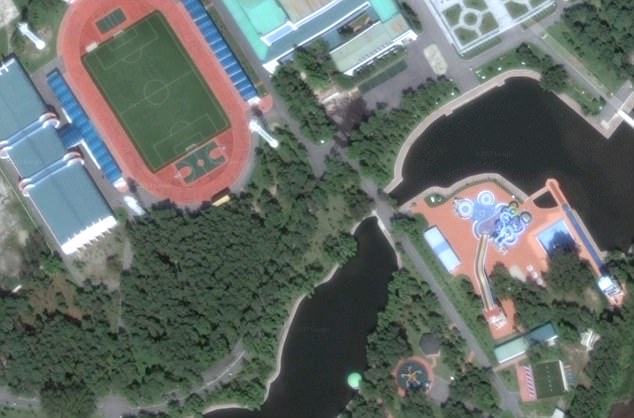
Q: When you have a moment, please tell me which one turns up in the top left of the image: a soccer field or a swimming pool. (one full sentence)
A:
It is a soccer field that can be seen in the top left of the image.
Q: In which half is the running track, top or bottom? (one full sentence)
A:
The running track is in the top half of the image.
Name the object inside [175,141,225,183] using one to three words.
basketball court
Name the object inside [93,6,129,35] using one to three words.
sports court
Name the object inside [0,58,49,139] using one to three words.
building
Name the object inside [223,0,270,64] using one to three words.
building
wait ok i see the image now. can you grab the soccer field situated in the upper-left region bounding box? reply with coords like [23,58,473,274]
[80,9,231,173]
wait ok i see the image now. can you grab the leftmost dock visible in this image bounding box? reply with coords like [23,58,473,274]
[527,175,570,207]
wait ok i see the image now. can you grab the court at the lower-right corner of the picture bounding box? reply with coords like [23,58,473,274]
[534,360,567,399]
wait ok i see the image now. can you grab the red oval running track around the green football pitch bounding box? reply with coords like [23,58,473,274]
[55,0,256,209]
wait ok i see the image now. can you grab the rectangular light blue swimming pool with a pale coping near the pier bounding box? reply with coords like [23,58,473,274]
[537,220,575,256]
